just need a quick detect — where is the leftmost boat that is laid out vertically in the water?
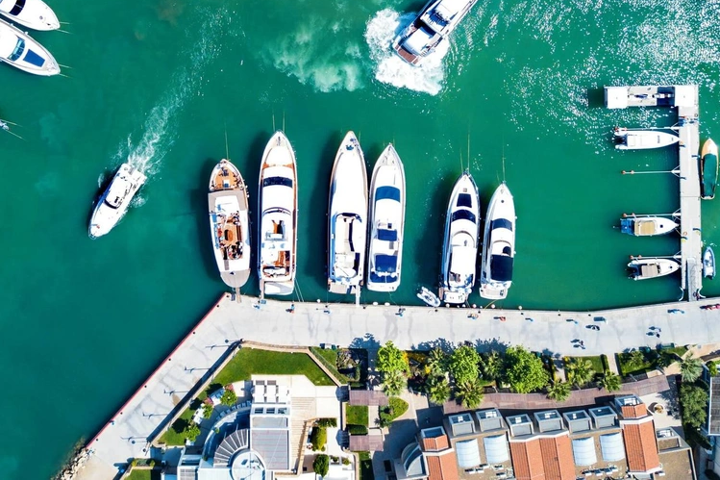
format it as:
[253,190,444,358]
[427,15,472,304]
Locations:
[209,135,253,305]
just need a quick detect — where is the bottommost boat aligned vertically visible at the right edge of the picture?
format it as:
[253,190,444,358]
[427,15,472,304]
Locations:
[704,247,716,281]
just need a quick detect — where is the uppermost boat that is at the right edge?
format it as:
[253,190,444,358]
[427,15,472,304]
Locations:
[612,130,684,148]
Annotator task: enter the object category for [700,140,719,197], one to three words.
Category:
boat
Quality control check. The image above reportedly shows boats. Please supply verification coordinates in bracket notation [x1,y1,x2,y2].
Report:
[614,215,679,236]
[612,130,684,148]
[438,126,480,305]
[209,135,253,305]
[625,257,680,278]
[704,247,716,281]
[92,164,146,237]
[700,140,719,197]
[0,0,68,31]
[323,112,368,328]
[418,286,439,306]
[259,110,301,315]
[392,0,480,69]
[367,132,405,302]
[0,20,69,76]
[478,145,518,302]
